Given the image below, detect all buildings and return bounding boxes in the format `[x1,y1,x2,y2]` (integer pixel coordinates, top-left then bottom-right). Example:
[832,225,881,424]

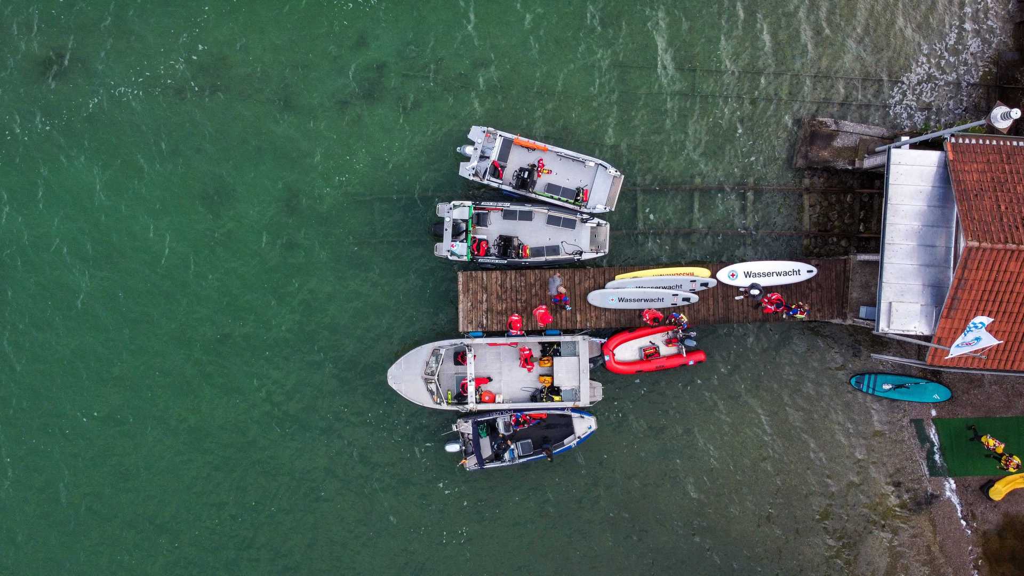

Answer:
[874,131,1024,372]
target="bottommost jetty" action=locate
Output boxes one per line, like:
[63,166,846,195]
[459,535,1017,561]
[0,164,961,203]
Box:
[458,257,847,332]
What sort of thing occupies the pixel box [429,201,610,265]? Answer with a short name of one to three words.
boat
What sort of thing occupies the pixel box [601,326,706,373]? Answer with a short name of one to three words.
boat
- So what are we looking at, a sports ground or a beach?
beach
